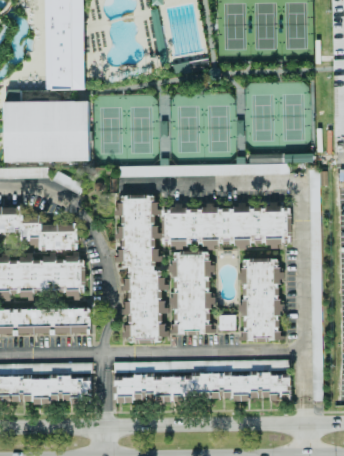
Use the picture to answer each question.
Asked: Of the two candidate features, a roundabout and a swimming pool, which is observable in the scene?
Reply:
swimming pool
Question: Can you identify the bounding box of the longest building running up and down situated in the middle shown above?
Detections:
[116,193,170,344]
